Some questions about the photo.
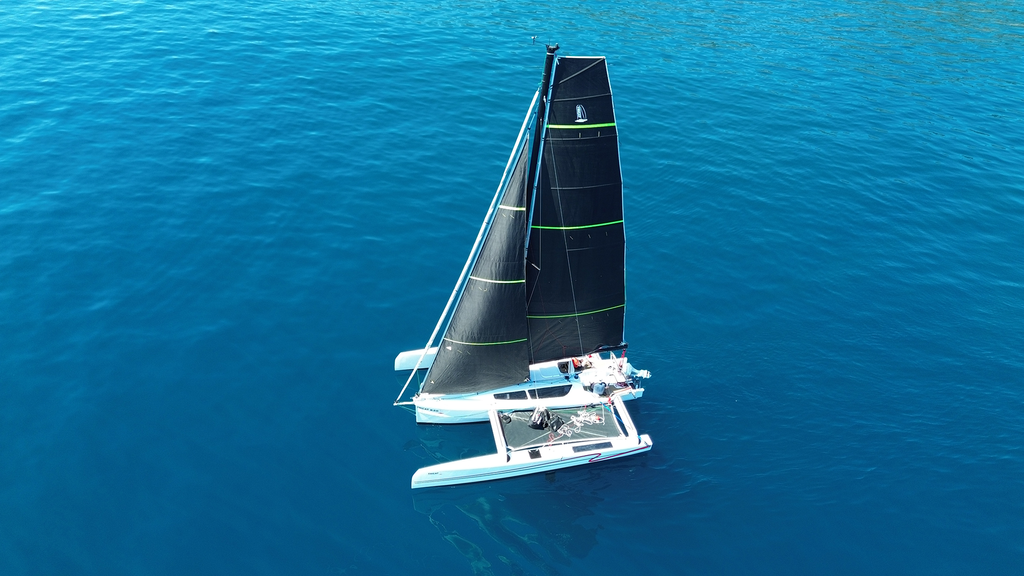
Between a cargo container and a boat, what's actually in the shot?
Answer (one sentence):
This aerial view contains a boat.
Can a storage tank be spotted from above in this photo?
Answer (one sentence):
No, the photo shows no storage tank.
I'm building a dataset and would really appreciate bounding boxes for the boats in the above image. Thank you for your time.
[393,35,652,489]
